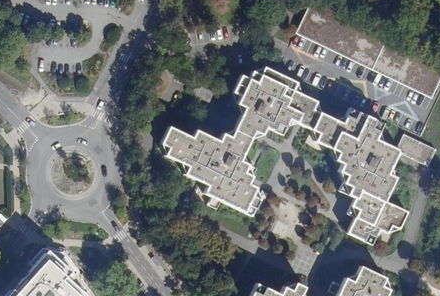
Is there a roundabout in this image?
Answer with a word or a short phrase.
Yes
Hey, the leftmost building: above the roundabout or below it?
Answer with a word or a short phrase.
below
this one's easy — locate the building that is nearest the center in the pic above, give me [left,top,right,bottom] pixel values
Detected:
[160,68,304,216]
